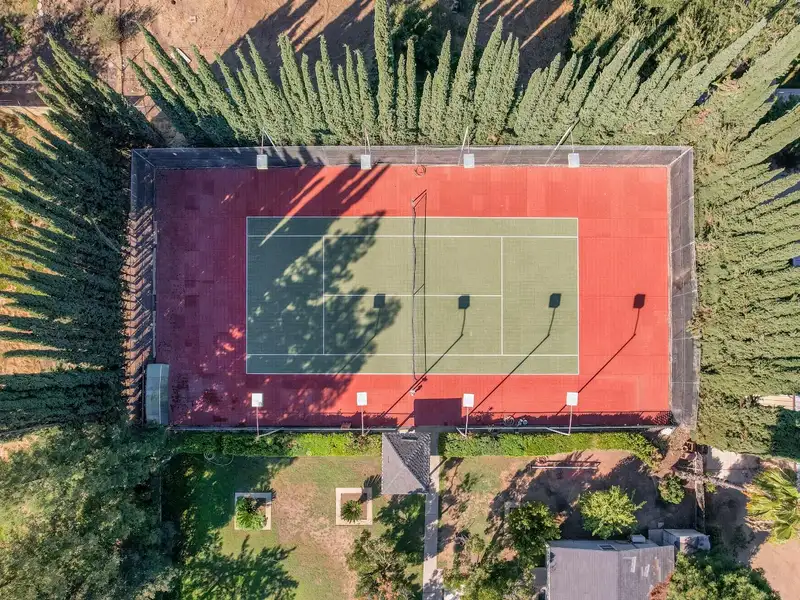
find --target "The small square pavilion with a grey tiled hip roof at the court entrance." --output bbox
[382,432,436,495]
